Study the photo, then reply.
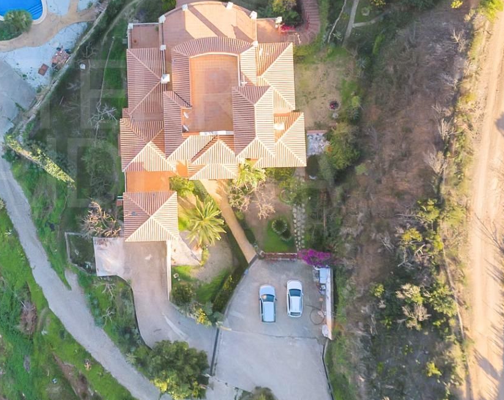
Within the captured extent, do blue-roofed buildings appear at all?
No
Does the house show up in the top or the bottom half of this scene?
top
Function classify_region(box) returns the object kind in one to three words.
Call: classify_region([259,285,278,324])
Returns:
car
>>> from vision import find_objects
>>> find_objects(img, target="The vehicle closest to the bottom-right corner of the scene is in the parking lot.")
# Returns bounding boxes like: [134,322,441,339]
[287,281,305,320]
